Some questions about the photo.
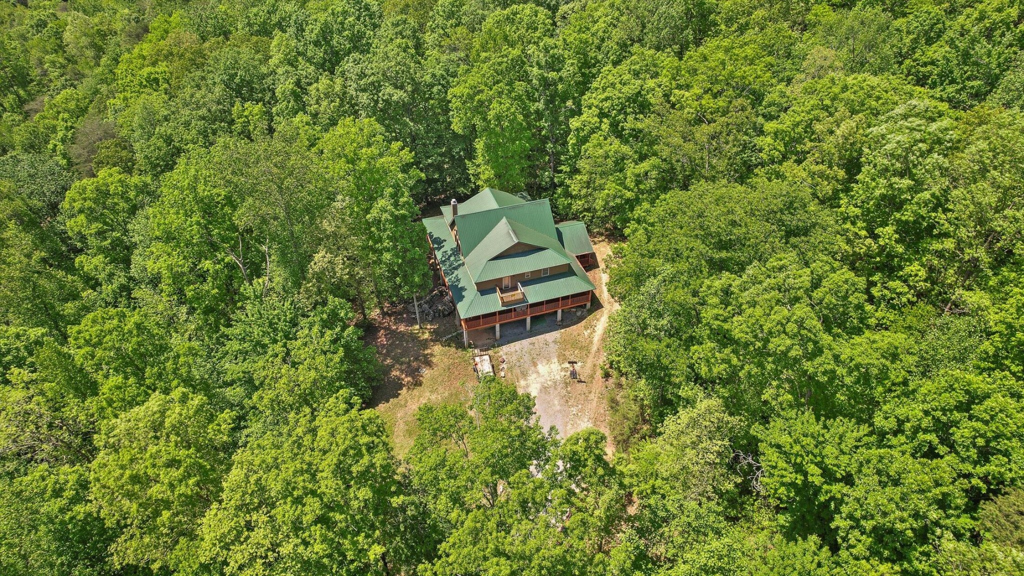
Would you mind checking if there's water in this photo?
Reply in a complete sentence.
No, there is no water in the image.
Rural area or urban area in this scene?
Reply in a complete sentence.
The land in this view is best described as rural.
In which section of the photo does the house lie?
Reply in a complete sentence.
The house appears toward the center of the photo.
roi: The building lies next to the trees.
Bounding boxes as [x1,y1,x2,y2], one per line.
[424,185,597,331]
